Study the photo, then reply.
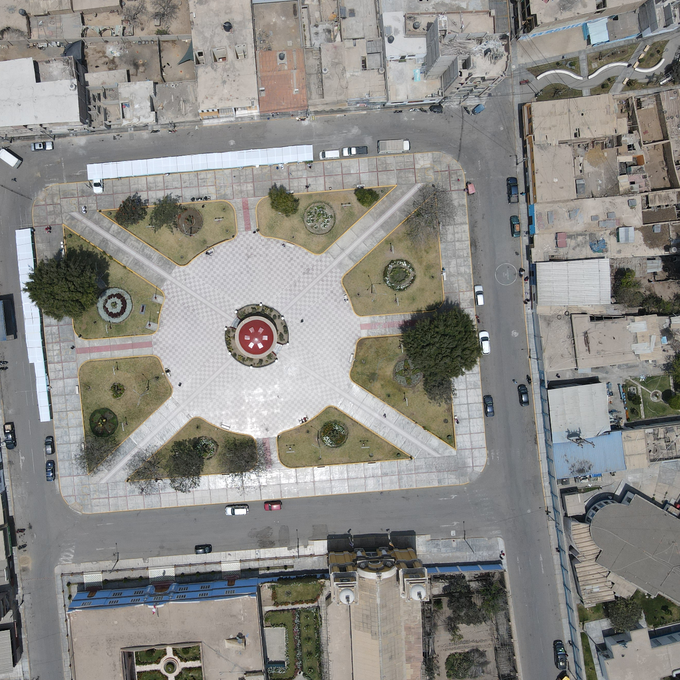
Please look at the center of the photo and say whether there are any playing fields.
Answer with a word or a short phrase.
No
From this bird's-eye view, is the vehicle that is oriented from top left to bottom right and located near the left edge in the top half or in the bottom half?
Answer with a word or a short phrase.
top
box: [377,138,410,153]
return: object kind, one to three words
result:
vehicle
